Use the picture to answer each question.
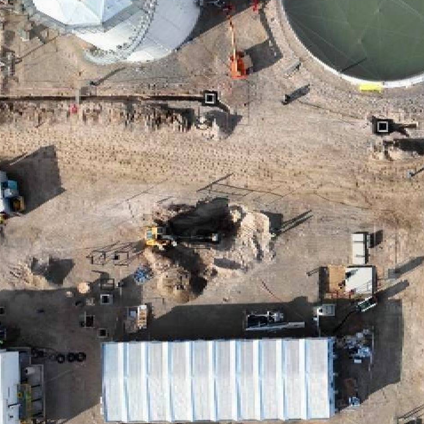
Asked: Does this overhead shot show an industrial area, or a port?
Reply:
industrial area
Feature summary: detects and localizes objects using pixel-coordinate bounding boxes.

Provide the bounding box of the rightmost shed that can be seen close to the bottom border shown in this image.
[101,335,337,424]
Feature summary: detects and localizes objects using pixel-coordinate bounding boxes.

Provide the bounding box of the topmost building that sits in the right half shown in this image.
[353,234,366,264]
